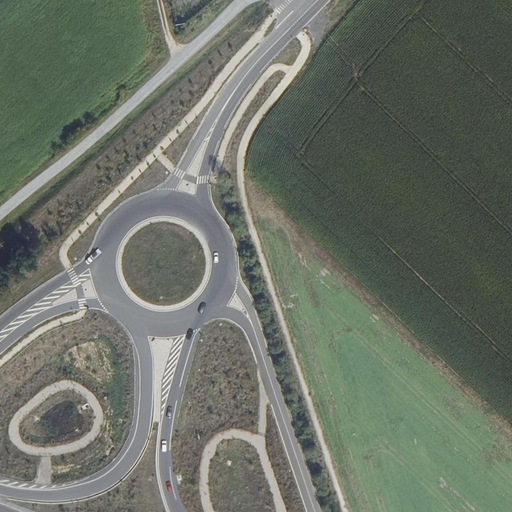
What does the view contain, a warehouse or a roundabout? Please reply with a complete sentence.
This aerial view contains a roundabout.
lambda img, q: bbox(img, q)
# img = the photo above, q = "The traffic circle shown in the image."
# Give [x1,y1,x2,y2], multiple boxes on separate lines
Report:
[90,190,238,338]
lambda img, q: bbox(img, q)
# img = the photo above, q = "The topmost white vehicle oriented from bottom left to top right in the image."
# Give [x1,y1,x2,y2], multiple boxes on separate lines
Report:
[84,248,102,265]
